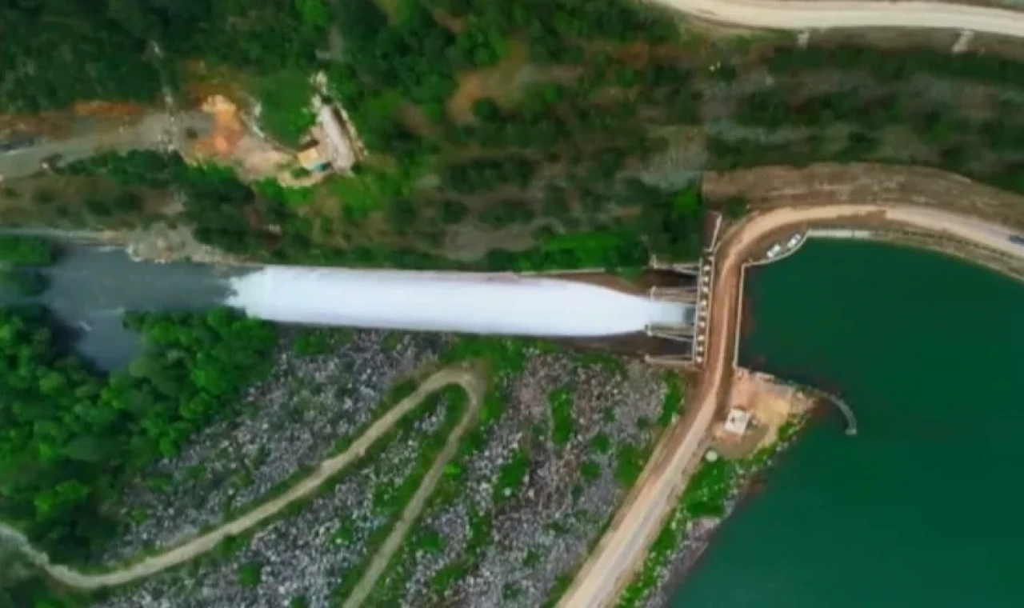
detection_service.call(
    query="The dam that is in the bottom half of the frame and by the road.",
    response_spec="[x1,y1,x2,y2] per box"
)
[86,213,871,608]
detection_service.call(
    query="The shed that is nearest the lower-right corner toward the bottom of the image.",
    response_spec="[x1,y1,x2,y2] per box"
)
[723,408,751,436]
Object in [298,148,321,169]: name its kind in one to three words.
building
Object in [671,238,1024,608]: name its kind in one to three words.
pond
